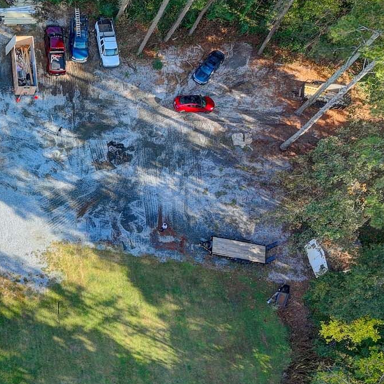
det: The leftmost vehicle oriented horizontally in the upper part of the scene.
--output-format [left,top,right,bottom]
[171,93,215,115]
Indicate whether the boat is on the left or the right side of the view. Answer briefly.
right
